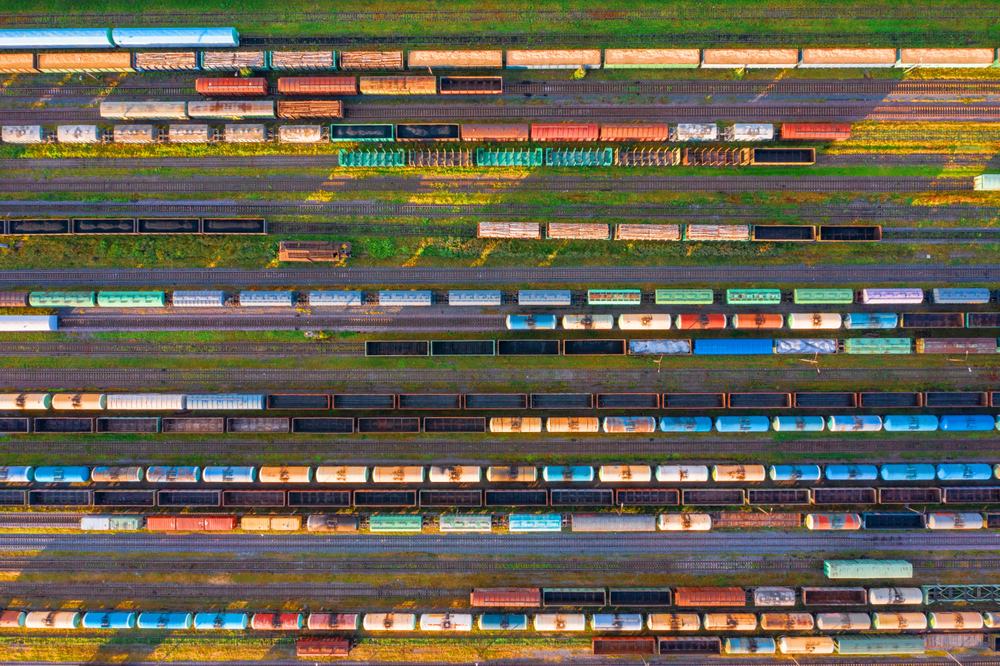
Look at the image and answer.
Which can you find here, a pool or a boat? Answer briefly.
boat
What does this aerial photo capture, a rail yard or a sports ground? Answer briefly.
rail yard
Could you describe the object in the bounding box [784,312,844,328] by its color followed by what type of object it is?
white rail car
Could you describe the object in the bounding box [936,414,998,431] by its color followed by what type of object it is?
blue rail car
